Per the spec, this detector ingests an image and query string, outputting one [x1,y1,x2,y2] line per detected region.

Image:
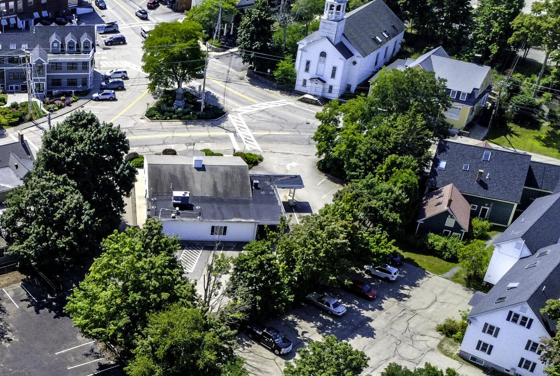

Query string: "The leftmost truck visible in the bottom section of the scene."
[243,326,294,356]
